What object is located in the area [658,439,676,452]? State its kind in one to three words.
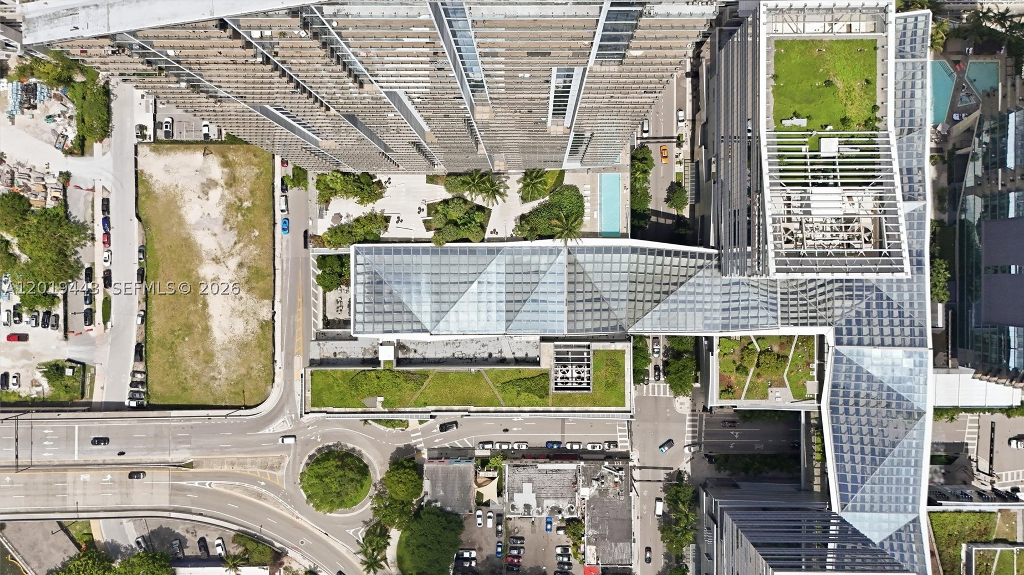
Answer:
vehicle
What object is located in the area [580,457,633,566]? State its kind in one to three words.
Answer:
building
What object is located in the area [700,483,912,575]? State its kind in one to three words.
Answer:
building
